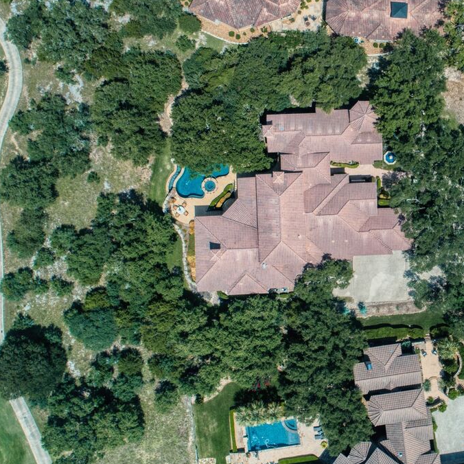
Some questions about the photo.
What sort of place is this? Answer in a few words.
residential area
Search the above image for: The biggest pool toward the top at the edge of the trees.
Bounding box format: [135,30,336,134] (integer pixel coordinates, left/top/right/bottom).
[176,162,230,198]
